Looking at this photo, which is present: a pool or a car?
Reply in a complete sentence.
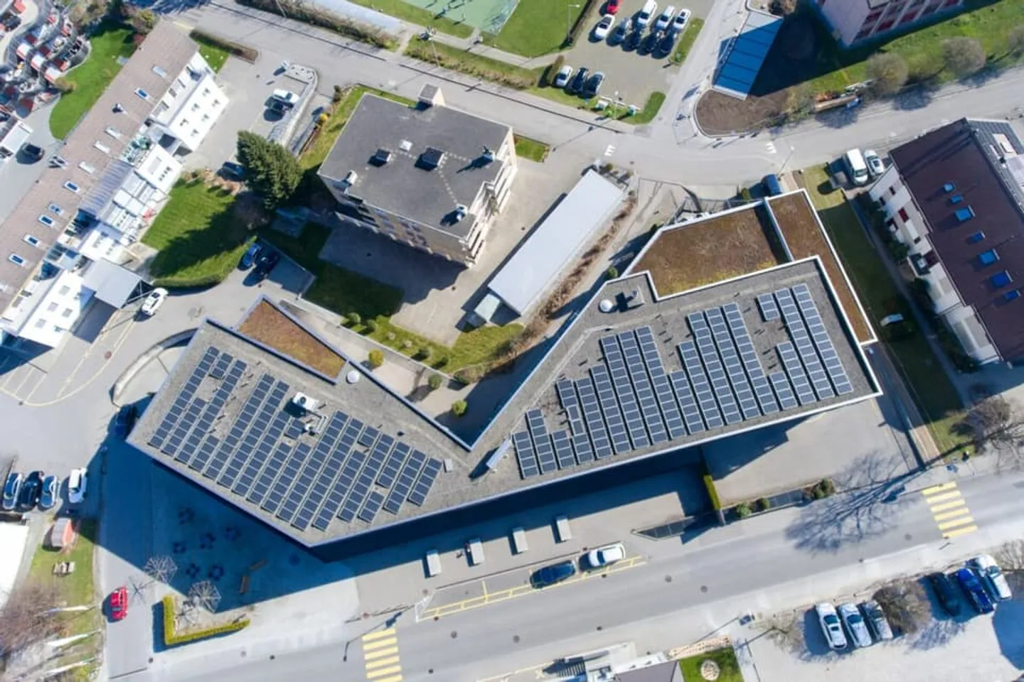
The one in the frame is a car.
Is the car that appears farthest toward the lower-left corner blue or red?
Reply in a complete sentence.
The car that appears farthest toward the lower-left corner is red.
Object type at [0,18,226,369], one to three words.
house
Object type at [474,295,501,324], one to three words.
shed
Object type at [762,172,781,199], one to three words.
car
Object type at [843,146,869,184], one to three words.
vehicle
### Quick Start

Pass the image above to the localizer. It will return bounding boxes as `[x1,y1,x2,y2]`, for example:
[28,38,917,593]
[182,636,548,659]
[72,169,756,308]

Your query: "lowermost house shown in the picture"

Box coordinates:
[585,642,679,682]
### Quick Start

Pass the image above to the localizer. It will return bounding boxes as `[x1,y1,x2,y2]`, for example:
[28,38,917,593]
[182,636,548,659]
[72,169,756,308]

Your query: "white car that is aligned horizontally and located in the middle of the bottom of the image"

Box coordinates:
[585,545,624,568]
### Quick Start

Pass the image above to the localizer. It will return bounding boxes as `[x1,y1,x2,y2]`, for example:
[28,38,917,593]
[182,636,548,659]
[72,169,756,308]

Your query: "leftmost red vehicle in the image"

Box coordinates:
[110,584,131,621]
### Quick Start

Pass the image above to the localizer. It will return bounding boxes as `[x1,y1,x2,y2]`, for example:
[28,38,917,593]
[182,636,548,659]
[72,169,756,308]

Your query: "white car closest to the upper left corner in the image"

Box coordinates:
[272,86,302,107]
